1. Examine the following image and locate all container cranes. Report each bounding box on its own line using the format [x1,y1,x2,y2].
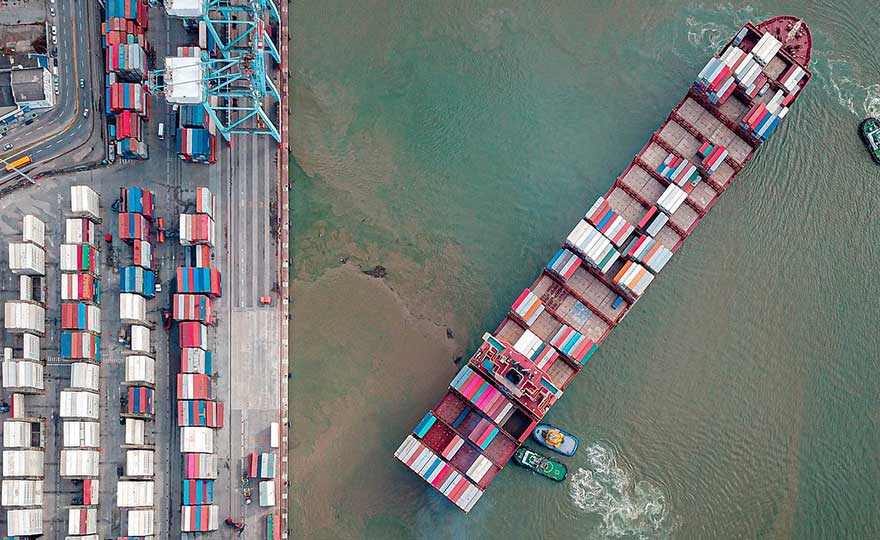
[150,0,285,73]
[150,9,290,150]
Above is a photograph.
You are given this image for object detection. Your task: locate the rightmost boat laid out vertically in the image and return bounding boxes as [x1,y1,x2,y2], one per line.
[859,116,880,165]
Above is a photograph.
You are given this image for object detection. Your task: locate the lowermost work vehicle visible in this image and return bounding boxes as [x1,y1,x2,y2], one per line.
[224,519,248,539]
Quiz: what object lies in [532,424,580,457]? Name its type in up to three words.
boat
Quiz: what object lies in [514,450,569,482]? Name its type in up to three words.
boat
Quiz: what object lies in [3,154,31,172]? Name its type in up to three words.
vehicle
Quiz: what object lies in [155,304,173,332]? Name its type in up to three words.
work vehicle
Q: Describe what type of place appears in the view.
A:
port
